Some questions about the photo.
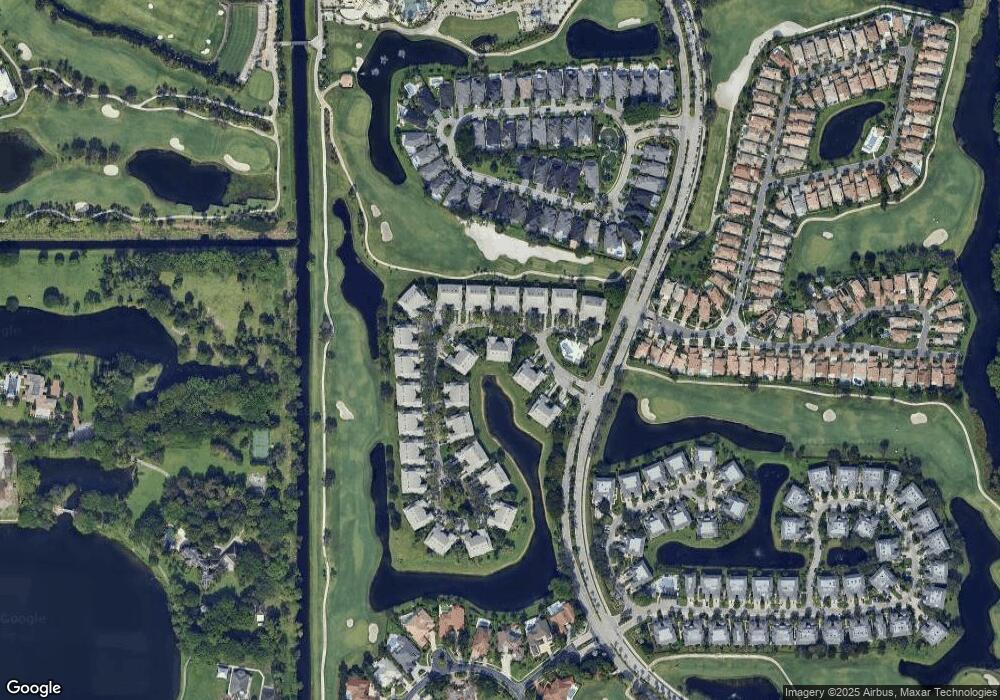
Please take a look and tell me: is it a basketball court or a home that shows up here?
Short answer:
home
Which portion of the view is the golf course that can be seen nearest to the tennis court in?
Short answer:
center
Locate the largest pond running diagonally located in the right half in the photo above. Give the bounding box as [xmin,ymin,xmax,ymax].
[819,102,886,160]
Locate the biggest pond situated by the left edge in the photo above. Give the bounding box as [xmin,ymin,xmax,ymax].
[29,457,137,509]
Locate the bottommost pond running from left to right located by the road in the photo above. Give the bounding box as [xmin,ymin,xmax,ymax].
[685,677,784,700]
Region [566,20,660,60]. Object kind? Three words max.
pond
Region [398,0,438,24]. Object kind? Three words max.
swimming pool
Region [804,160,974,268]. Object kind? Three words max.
golf course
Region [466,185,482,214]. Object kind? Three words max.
house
